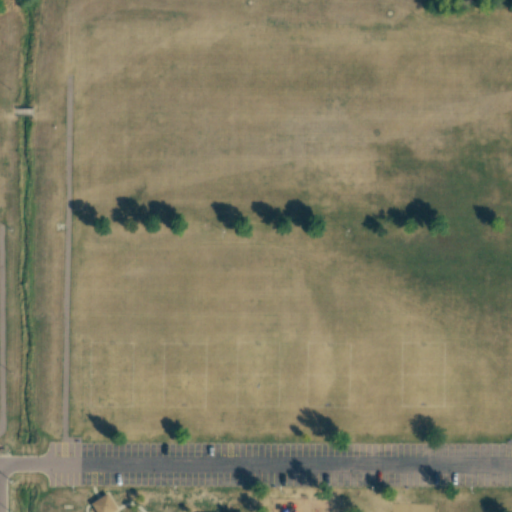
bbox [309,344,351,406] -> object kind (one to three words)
soccer field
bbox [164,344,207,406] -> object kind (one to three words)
soccer field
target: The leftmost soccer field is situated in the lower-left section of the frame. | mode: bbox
[91,344,134,406]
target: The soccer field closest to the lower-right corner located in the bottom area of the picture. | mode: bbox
[402,344,446,406]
